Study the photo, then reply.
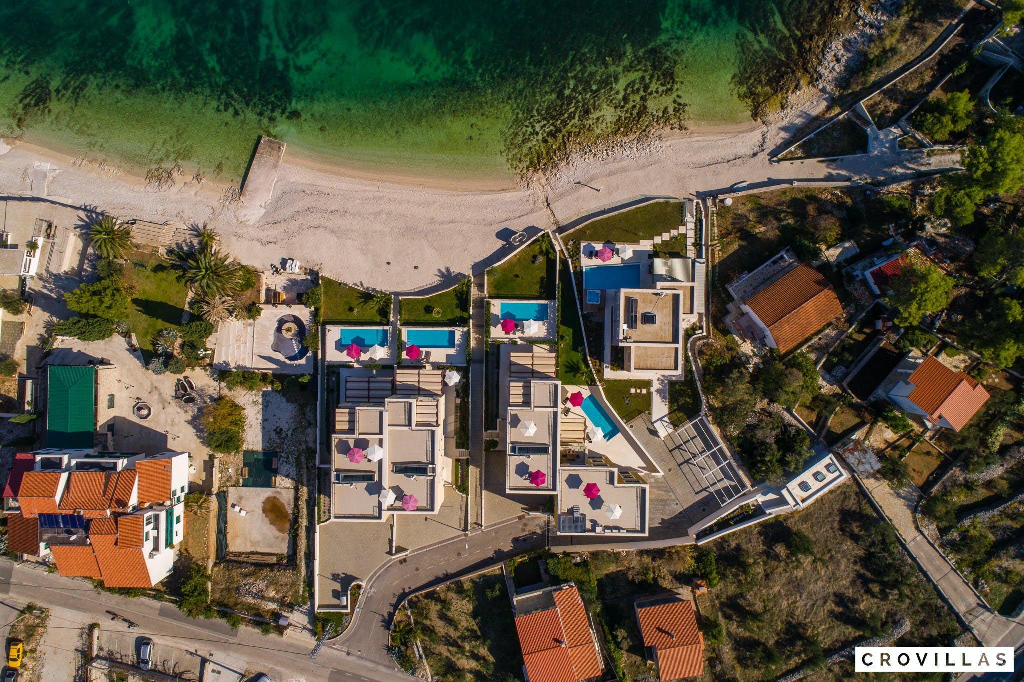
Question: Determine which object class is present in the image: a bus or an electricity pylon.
electricity pylon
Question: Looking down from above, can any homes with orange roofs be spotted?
Yes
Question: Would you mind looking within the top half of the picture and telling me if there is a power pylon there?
No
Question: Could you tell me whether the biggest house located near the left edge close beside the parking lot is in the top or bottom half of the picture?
bottom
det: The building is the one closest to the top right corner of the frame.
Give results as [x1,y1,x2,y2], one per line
[855,246,947,296]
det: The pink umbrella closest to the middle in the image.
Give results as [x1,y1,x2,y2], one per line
[501,318,516,335]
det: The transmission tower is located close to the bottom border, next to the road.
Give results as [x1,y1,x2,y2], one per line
[304,622,335,661]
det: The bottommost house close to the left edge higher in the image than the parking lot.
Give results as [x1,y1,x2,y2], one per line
[2,449,191,587]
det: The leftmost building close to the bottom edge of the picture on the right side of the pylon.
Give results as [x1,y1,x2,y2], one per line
[512,576,606,682]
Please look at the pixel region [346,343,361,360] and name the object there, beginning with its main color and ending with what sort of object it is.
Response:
pink umbrella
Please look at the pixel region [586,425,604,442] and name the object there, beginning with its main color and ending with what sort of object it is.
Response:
white umbrella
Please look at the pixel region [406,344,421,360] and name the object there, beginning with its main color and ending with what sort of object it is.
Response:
pink umbrella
